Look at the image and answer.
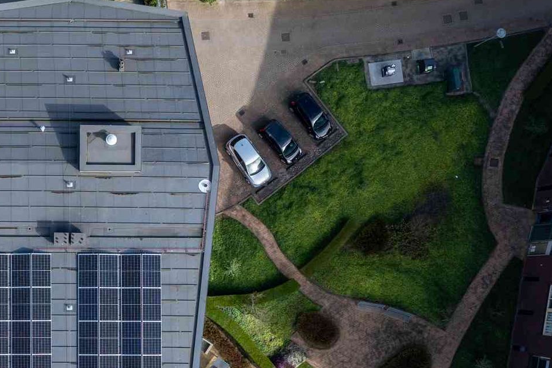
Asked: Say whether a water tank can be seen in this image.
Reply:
No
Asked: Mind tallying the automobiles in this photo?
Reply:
3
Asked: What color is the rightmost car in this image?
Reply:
black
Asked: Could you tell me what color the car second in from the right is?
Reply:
black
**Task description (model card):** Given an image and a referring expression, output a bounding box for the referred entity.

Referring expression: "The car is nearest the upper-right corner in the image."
[285,86,332,146]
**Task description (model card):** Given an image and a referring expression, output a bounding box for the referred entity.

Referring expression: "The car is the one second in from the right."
[255,112,302,171]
